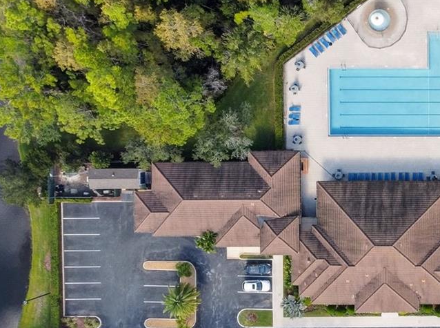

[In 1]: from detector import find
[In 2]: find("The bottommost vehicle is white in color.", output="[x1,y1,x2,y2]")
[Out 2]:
[243,279,271,293]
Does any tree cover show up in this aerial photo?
Yes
